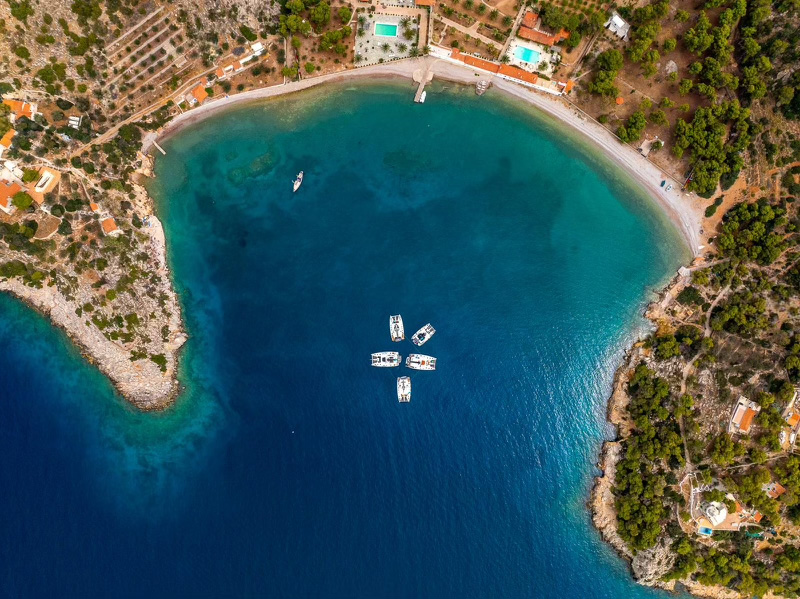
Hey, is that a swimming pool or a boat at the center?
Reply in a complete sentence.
What appears at the center is a boat.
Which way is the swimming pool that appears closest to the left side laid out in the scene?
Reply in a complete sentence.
In this picture, the swimming pool that appears closest to the left side lies diagonally.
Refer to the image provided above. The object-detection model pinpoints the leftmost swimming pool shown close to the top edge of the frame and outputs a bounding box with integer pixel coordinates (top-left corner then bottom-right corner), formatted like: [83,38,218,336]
[373,21,399,38]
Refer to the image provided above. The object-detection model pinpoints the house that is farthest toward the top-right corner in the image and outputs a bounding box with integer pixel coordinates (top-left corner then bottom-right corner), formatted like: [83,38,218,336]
[600,11,634,43]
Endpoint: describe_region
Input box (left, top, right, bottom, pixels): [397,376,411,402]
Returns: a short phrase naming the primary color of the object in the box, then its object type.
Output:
white boat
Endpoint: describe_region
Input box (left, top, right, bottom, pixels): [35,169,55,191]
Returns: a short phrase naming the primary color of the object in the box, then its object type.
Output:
white swimming pool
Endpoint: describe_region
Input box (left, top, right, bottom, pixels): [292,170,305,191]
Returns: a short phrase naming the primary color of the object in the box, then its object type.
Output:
white boat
